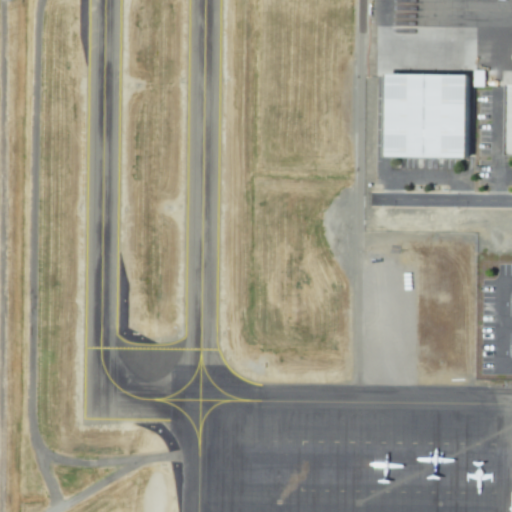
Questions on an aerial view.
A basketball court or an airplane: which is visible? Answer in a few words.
airplane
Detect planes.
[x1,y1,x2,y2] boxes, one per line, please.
[417,448,455,481]
[468,462,492,495]
[369,454,406,484]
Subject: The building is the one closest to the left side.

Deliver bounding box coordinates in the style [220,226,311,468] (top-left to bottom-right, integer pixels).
[382,72,469,156]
